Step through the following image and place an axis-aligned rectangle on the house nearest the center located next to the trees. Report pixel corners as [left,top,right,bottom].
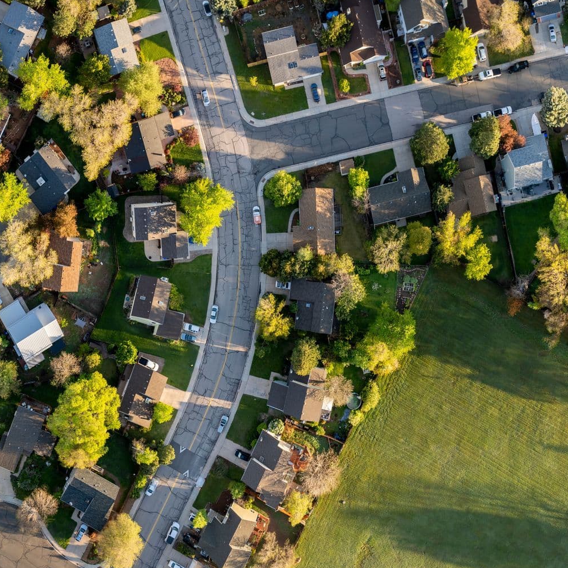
[288,278,335,334]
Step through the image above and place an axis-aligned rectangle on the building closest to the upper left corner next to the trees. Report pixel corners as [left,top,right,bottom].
[0,4,45,81]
